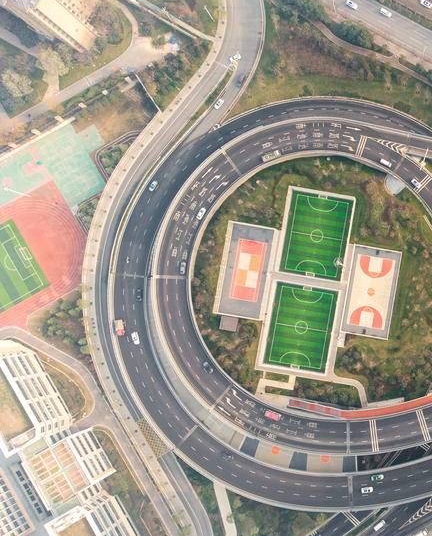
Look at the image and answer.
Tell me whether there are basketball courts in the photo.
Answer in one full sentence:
Yes, this view includes a basketball court.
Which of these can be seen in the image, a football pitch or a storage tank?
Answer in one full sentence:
I can see a football pitch in this picture.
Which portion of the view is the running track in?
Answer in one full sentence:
The running track appears toward the left of the photo.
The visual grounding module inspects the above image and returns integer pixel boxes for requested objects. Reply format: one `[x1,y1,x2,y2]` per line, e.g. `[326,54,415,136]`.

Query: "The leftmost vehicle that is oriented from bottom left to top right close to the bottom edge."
[372,520,387,534]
